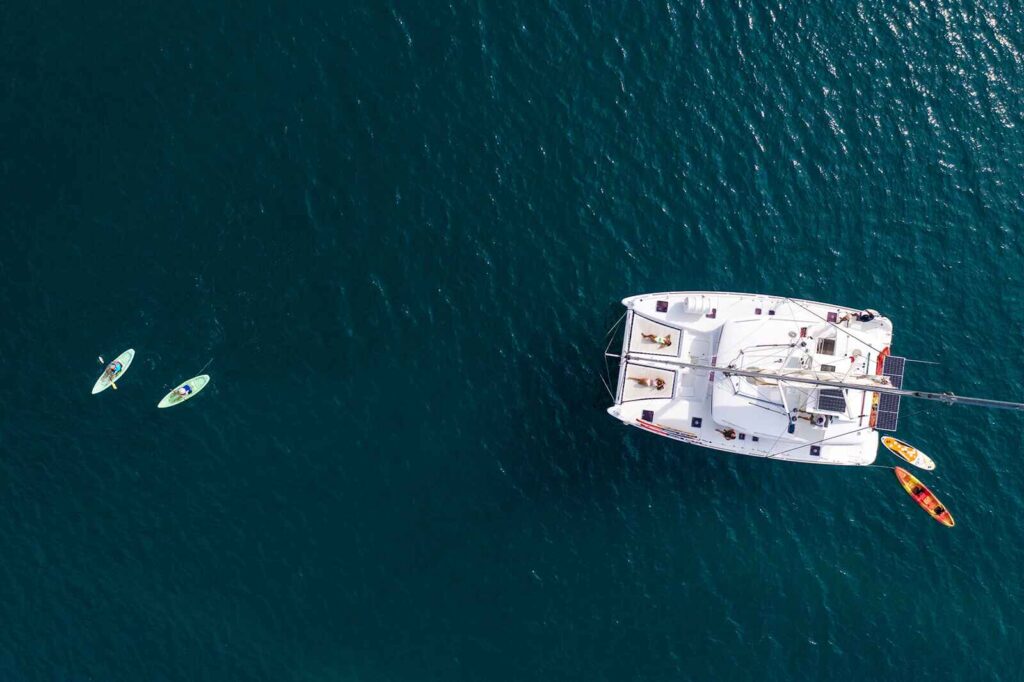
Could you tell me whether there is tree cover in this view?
No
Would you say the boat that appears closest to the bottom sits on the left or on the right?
right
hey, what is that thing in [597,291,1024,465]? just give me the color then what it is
white boat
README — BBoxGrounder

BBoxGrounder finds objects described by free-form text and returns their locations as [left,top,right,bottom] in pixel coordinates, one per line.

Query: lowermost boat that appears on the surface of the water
[893,468,956,526]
